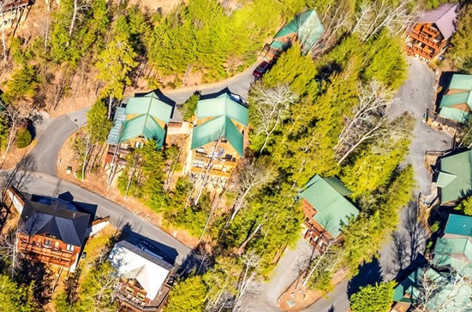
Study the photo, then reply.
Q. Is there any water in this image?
No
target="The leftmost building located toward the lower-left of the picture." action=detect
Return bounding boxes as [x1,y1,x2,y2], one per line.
[19,196,90,271]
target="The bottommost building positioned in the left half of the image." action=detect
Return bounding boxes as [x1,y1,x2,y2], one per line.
[102,241,175,312]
